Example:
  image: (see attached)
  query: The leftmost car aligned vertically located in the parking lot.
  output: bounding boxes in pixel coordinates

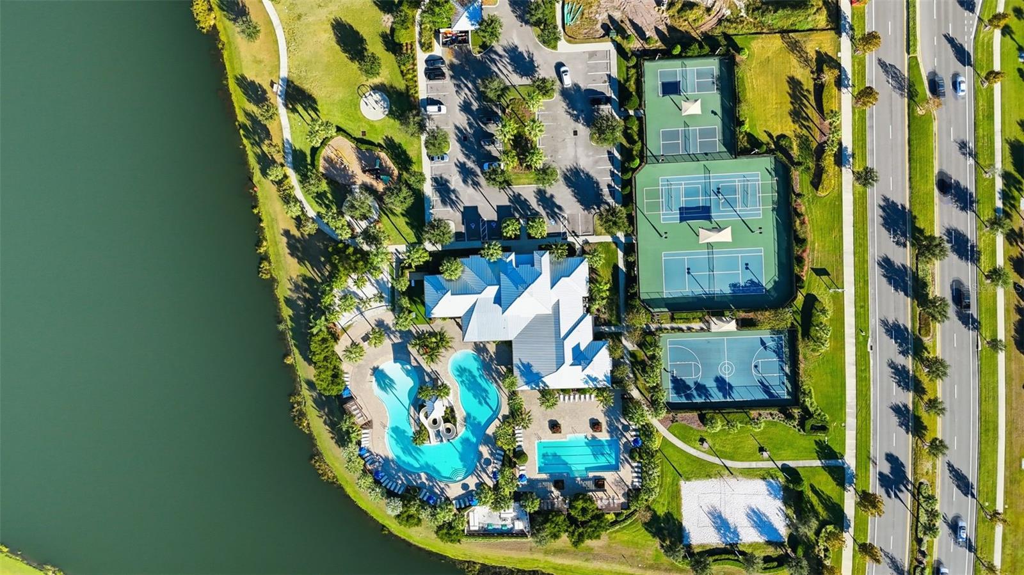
[560,65,572,87]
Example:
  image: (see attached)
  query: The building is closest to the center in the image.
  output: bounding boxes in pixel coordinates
[424,251,611,389]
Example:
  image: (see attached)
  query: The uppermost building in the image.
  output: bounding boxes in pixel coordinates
[439,0,482,48]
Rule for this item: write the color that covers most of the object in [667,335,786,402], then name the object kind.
blue basketball court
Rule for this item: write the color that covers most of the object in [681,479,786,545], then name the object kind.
white sports court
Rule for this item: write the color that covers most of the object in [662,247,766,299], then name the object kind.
blue tennis court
